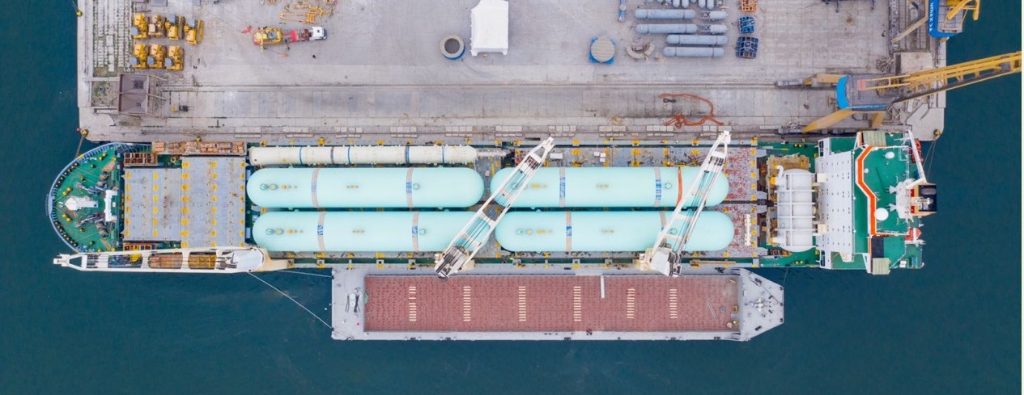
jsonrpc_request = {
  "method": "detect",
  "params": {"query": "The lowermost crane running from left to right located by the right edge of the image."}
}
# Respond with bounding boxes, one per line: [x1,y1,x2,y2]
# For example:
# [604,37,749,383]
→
[781,51,1024,135]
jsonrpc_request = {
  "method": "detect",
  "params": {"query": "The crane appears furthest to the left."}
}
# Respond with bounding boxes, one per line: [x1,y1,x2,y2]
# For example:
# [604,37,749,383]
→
[53,244,292,275]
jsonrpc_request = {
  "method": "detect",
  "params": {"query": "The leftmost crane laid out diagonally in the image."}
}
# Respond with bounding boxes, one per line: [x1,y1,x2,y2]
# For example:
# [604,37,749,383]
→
[433,137,554,288]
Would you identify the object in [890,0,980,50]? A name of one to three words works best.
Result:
crane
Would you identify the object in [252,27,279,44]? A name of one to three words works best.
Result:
work vehicle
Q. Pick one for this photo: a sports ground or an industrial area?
industrial area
